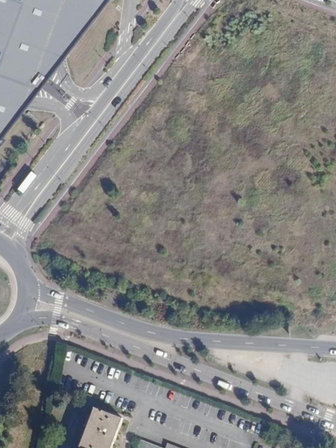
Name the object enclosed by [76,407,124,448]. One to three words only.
building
